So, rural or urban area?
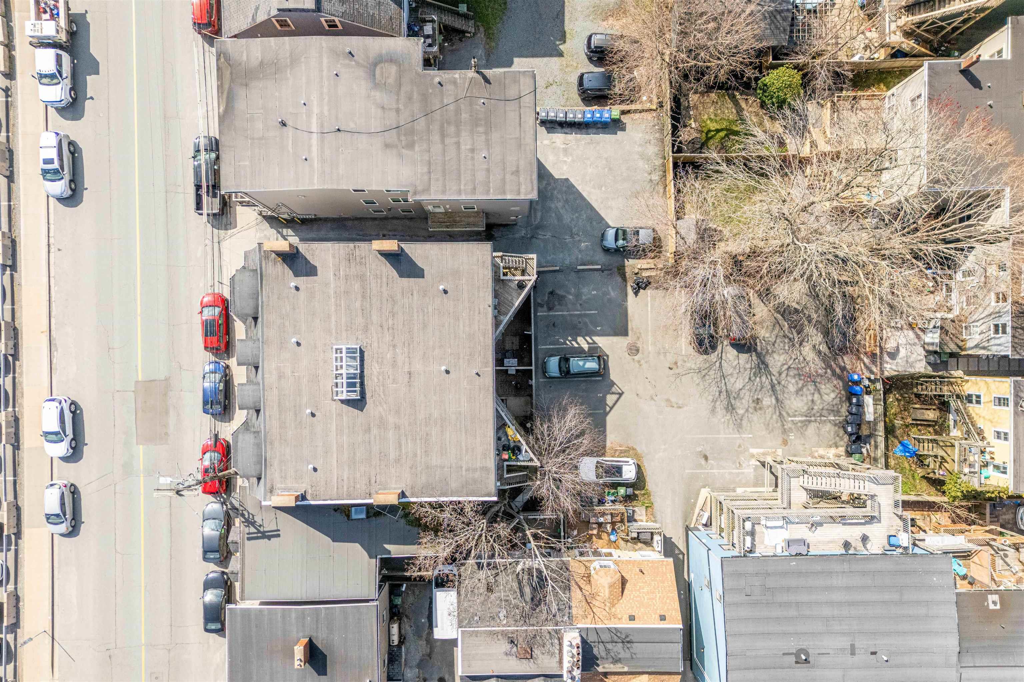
urban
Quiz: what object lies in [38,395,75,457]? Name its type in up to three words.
car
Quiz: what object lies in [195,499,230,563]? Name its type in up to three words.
car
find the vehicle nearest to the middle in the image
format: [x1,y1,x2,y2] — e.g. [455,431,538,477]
[543,350,604,382]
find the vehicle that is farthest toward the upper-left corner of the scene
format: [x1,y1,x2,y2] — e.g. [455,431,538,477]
[22,0,76,108]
